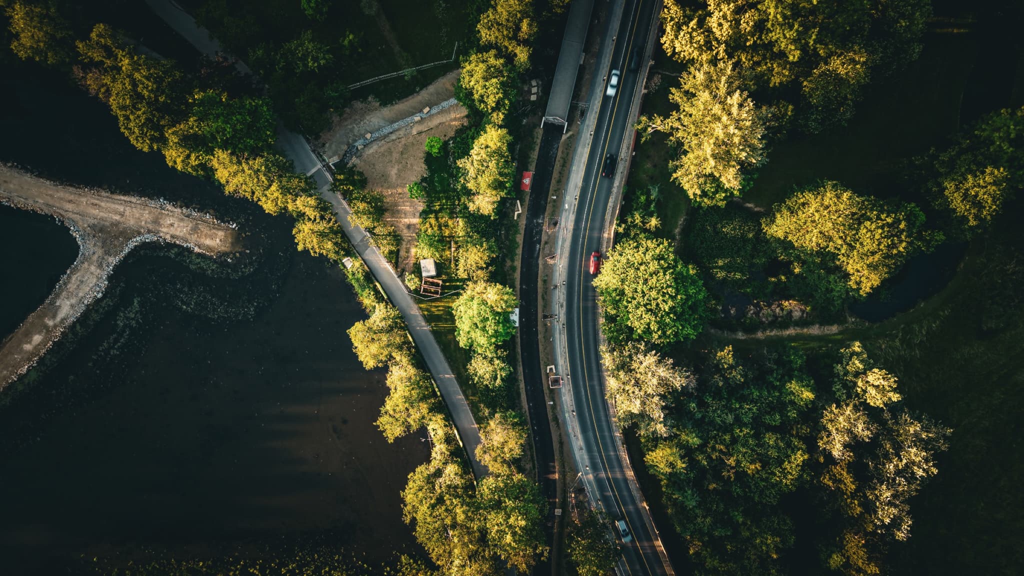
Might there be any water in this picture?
Yes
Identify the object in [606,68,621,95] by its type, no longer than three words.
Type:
car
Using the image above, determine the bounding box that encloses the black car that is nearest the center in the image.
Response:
[603,153,616,177]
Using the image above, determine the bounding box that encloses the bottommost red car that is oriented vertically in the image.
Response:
[589,251,601,275]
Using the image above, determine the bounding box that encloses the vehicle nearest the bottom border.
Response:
[616,519,632,544]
